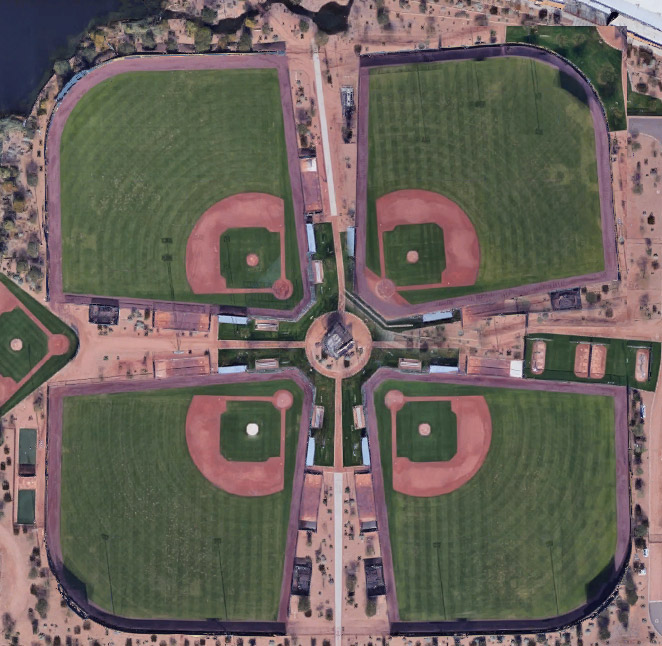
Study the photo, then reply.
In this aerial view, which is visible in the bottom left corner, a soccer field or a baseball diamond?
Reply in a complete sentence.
Looking in the bottom left corner, you will find a baseball diamond.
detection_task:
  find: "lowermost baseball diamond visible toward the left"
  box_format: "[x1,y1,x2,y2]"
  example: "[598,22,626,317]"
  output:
[45,369,312,634]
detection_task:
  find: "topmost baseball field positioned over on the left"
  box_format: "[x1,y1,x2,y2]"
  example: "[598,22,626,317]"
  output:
[45,54,310,317]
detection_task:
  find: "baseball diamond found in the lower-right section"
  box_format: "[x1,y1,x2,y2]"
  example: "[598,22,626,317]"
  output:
[364,369,631,634]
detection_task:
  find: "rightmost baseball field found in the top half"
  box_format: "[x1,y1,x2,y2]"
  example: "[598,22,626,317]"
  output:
[356,43,617,319]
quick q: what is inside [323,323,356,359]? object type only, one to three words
building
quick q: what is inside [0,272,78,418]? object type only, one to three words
baseball field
